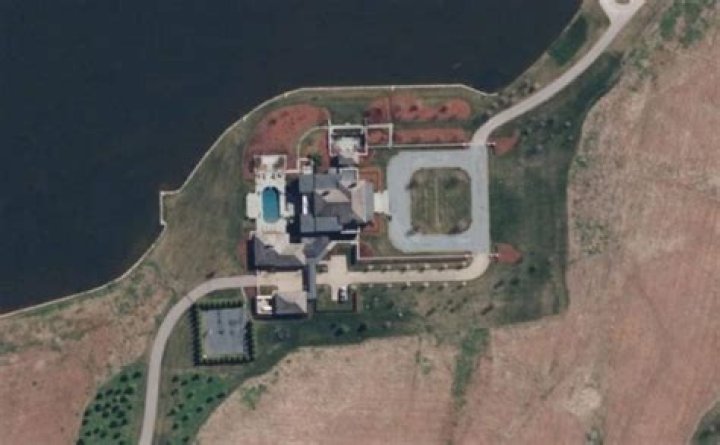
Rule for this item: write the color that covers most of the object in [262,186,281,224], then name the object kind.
blue swimming pool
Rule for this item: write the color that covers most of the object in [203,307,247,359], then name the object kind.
gray sports court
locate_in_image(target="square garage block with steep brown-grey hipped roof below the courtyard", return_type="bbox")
[276,292,307,314]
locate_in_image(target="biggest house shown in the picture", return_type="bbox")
[298,168,374,233]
